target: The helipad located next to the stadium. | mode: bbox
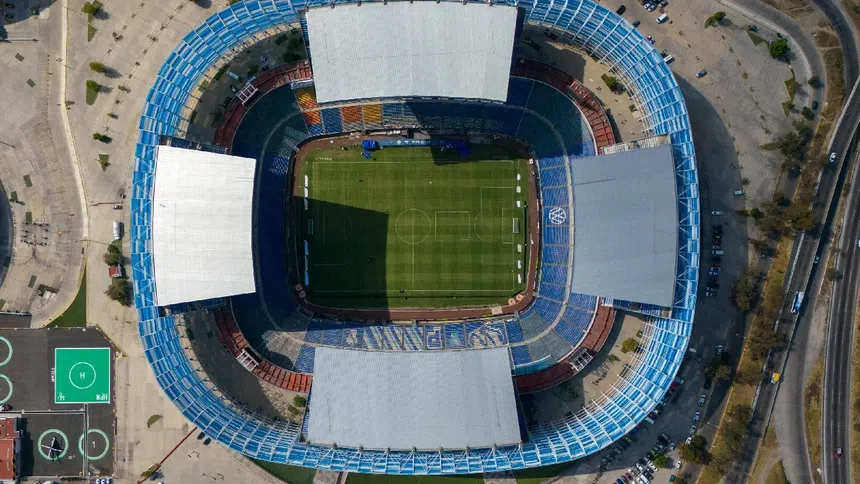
[51,348,110,403]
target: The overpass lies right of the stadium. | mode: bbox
[729,74,860,484]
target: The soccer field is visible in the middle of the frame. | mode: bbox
[296,145,528,308]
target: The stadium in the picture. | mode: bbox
[131,0,700,474]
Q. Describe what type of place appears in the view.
sports ground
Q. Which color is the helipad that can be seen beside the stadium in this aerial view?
green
